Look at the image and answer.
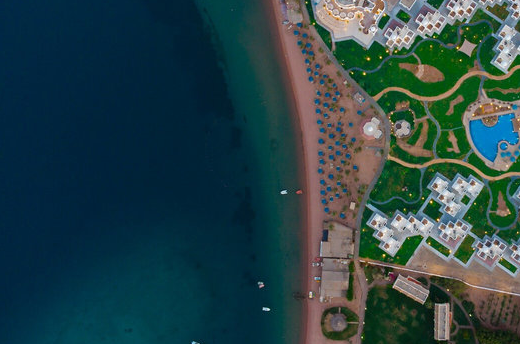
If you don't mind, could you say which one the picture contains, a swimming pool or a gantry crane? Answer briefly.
swimming pool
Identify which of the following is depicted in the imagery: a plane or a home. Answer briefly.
home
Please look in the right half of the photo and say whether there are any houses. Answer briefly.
Yes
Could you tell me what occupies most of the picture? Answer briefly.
water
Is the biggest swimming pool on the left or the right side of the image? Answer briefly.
right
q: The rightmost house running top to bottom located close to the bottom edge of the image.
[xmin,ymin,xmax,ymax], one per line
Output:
[434,302,451,340]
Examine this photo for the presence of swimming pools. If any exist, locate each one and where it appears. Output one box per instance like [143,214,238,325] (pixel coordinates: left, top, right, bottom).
[468,112,519,163]
[497,140,509,152]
